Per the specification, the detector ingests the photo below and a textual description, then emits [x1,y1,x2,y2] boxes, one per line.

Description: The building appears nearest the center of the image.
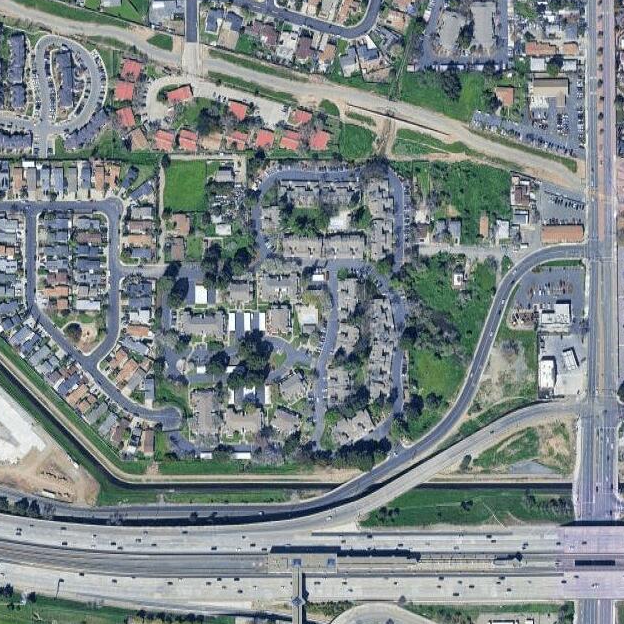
[296,302,318,324]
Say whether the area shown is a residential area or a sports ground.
residential area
